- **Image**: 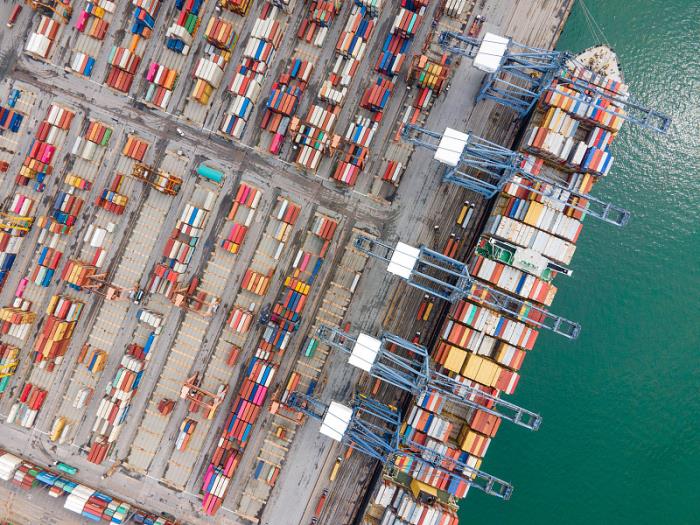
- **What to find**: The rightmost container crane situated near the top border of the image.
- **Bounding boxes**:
[437,18,669,129]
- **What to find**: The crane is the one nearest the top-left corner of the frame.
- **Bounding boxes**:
[24,0,83,39]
